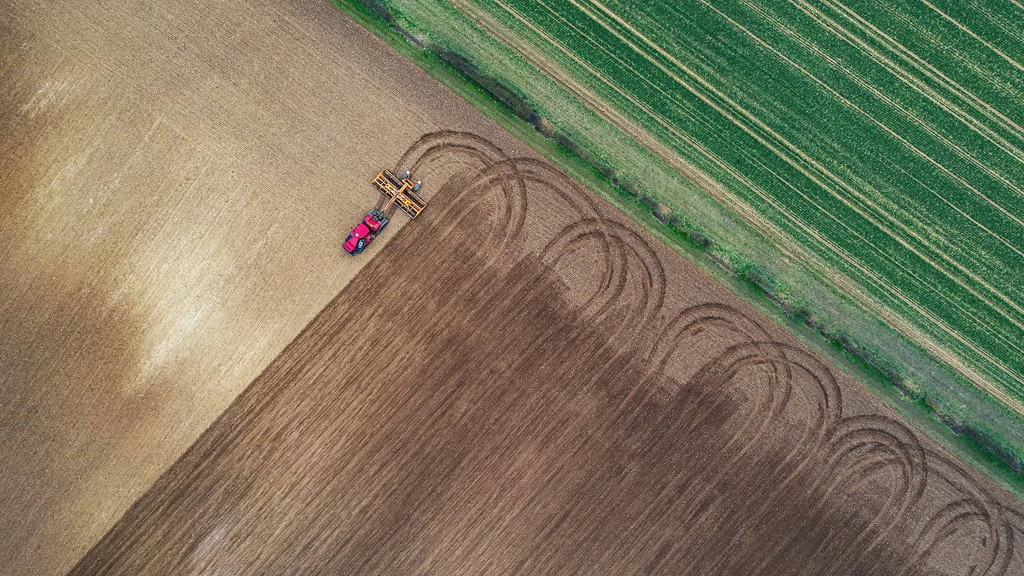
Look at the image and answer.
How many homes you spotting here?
0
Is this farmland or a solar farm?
farmland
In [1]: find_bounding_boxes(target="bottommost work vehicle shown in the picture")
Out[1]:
[342,209,390,257]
